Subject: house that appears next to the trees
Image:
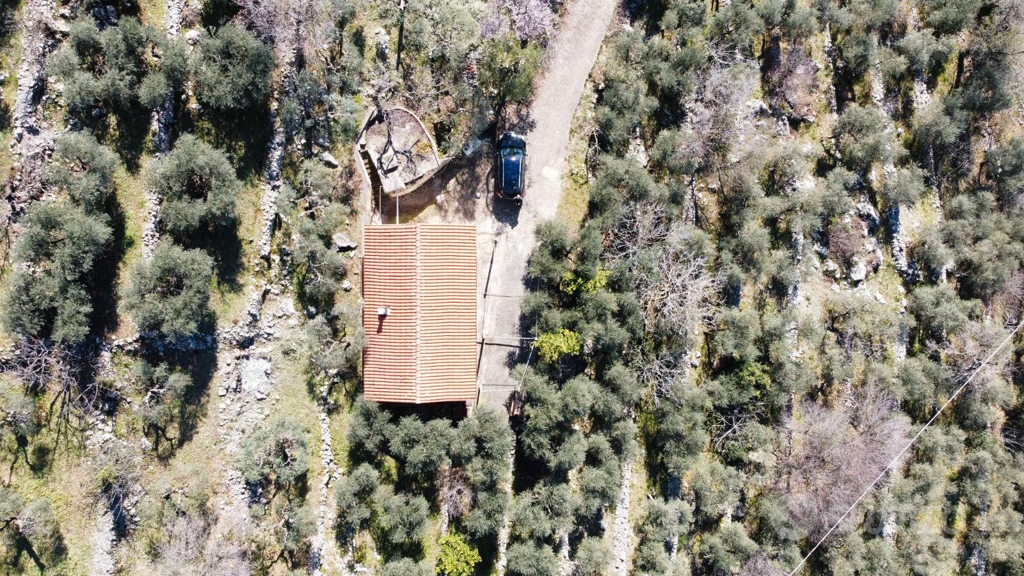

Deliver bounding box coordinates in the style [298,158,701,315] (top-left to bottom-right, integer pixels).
[362,223,478,406]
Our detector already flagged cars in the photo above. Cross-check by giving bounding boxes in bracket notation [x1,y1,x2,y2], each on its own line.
[495,133,528,201]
